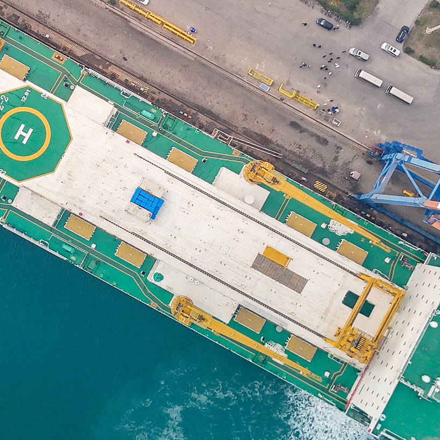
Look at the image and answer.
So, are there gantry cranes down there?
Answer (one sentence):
Yes, looking at the shot, I can spot a gantry crane.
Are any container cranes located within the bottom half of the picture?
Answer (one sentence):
Yes, I can see a container crane within the bottom half of the picture.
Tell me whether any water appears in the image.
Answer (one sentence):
Yes, there is water in the image.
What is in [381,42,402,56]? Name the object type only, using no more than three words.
vehicle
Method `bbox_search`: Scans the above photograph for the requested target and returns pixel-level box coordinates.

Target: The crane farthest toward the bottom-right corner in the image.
[325,274,408,361]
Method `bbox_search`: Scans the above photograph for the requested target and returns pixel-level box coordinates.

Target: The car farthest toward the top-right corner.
[396,24,411,43]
